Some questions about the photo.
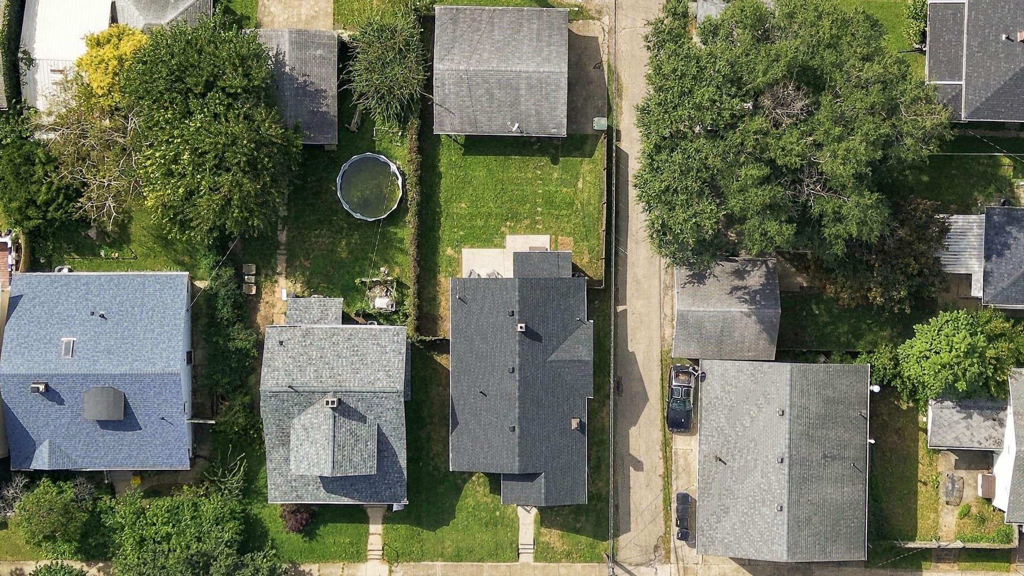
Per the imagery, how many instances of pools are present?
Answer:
1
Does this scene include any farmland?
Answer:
No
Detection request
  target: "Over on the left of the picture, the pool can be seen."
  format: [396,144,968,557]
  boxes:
[337,154,402,219]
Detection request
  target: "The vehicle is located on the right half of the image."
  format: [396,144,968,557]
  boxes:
[670,361,698,433]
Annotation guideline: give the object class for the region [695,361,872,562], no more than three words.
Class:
house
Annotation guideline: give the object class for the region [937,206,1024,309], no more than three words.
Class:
house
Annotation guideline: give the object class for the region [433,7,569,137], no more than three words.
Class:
building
